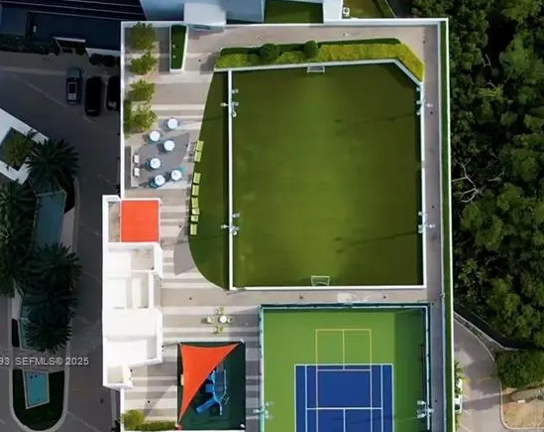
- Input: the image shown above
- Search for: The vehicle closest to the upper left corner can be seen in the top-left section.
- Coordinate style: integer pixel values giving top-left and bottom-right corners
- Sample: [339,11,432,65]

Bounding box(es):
[65,67,84,106]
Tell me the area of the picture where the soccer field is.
center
